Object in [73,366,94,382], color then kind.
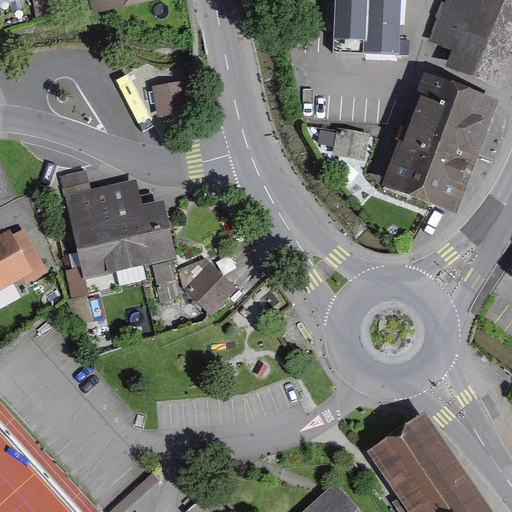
blue car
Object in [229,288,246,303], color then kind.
white camper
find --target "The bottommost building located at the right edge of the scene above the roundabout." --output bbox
[384,72,498,212]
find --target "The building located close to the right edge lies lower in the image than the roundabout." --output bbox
[368,412,494,512]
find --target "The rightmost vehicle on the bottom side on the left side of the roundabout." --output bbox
[284,380,299,402]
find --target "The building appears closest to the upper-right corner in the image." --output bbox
[430,0,505,75]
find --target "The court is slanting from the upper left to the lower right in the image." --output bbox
[0,434,71,512]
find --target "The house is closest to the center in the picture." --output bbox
[178,256,236,316]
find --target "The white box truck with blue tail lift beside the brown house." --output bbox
[423,208,444,237]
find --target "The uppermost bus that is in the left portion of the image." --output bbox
[116,74,155,134]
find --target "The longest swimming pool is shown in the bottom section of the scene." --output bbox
[88,295,105,321]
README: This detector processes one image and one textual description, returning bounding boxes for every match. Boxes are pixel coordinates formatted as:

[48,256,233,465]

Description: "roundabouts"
[326,266,460,398]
